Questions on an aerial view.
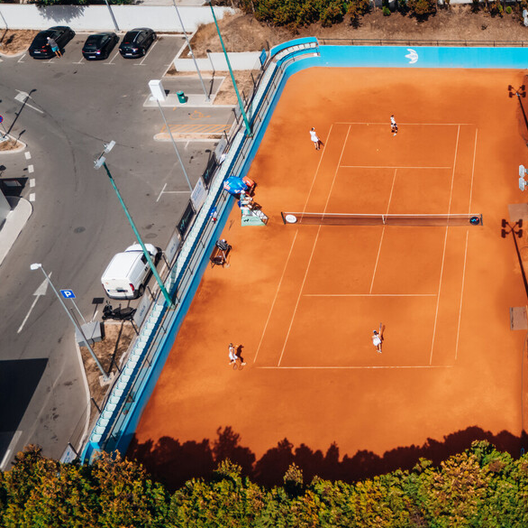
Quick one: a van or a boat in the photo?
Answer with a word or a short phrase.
van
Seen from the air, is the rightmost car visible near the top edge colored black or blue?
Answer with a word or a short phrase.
black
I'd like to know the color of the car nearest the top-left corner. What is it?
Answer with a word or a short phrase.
black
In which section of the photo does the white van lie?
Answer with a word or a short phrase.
left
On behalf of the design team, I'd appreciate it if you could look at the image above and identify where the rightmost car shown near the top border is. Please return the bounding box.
[117,26,156,55]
